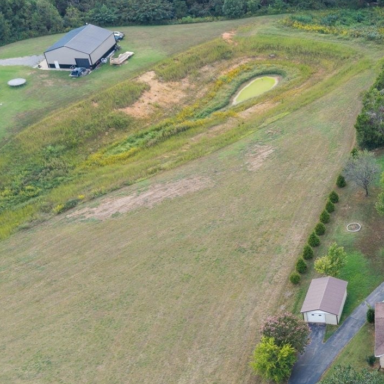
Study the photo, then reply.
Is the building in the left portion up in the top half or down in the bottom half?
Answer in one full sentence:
The top half of the photo is where the building in the left portion is.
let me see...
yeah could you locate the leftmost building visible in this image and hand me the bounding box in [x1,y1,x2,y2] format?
[44,23,116,70]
